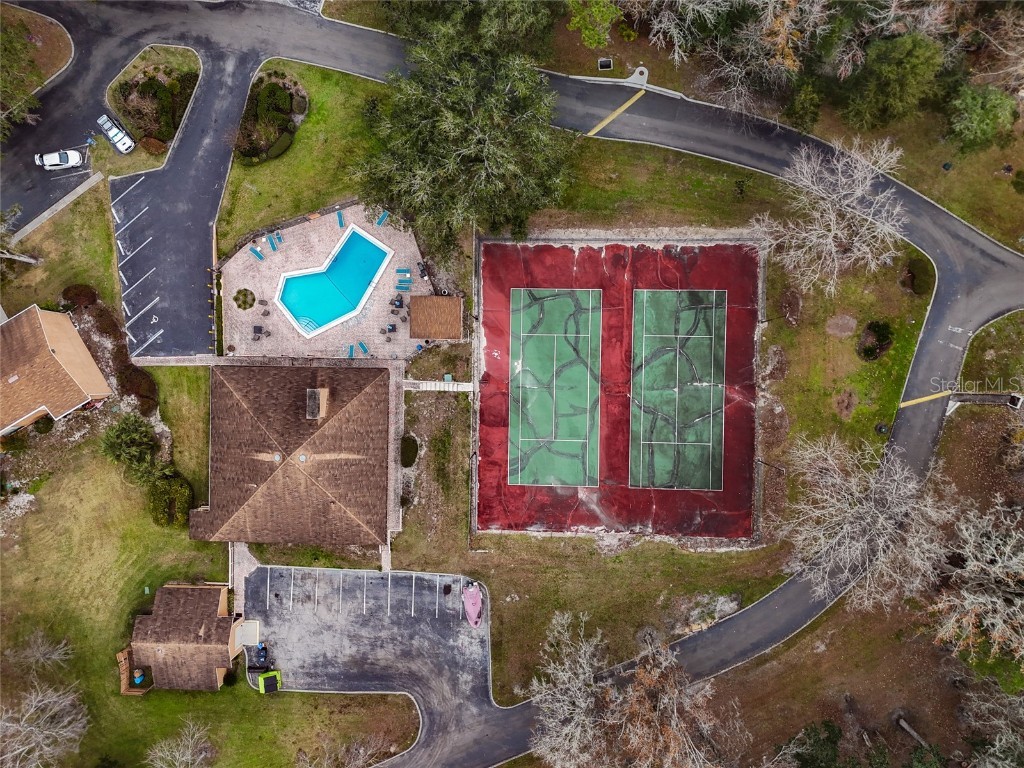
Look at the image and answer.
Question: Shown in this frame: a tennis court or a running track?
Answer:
tennis court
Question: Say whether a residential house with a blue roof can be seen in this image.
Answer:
No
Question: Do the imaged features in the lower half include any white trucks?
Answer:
No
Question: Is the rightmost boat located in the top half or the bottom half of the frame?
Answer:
bottom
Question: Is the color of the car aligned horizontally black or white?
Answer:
white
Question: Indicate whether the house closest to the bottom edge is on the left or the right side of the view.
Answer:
left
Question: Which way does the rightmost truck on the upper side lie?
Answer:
on a diagonal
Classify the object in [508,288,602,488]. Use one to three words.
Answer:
tennis court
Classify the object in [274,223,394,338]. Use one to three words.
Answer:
swimming pool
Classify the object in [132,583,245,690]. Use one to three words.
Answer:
house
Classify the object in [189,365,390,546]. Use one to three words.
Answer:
building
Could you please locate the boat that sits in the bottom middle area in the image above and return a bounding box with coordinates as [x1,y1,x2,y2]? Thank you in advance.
[461,584,483,632]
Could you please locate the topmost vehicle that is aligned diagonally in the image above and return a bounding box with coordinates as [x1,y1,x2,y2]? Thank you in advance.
[95,111,137,157]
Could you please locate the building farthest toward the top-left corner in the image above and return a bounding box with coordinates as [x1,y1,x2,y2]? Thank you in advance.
[0,304,112,436]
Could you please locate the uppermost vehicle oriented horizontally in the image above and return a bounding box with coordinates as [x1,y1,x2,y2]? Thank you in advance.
[34,151,86,172]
